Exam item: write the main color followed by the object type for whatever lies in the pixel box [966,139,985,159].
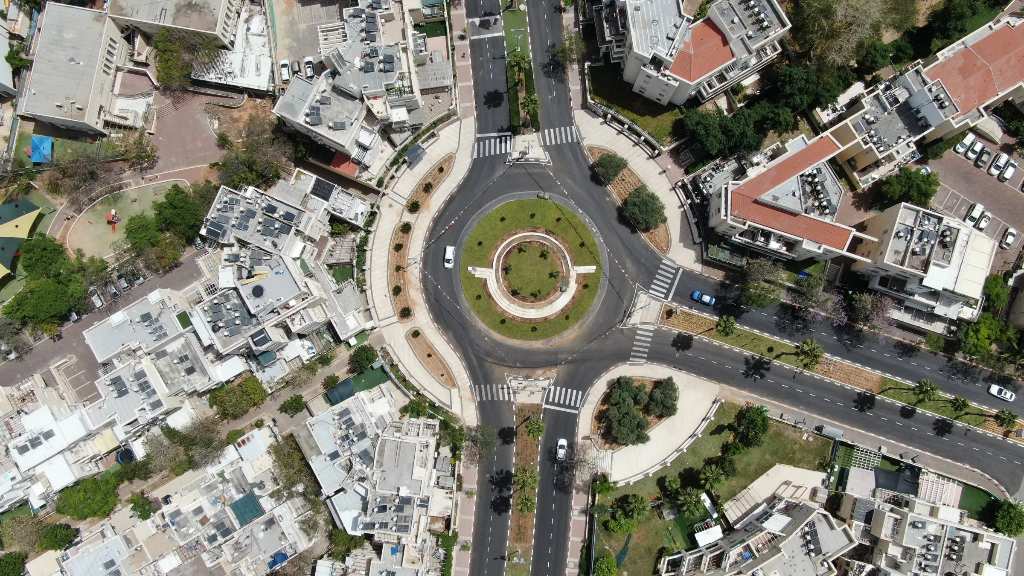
white car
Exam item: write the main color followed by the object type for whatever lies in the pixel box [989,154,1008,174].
white car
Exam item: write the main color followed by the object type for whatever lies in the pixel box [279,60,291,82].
white vehicle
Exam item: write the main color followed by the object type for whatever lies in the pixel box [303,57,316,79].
white vehicle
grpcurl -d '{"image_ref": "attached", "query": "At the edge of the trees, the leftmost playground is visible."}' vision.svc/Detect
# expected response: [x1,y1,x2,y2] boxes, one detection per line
[0,184,58,308]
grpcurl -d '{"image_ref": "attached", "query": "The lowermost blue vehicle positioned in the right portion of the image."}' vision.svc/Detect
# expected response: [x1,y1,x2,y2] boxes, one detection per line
[690,291,715,305]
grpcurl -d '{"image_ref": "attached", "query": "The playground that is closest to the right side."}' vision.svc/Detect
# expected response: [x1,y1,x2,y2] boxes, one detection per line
[68,181,192,261]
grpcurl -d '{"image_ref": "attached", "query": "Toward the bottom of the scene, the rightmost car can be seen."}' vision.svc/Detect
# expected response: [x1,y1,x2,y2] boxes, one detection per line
[988,385,1015,401]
